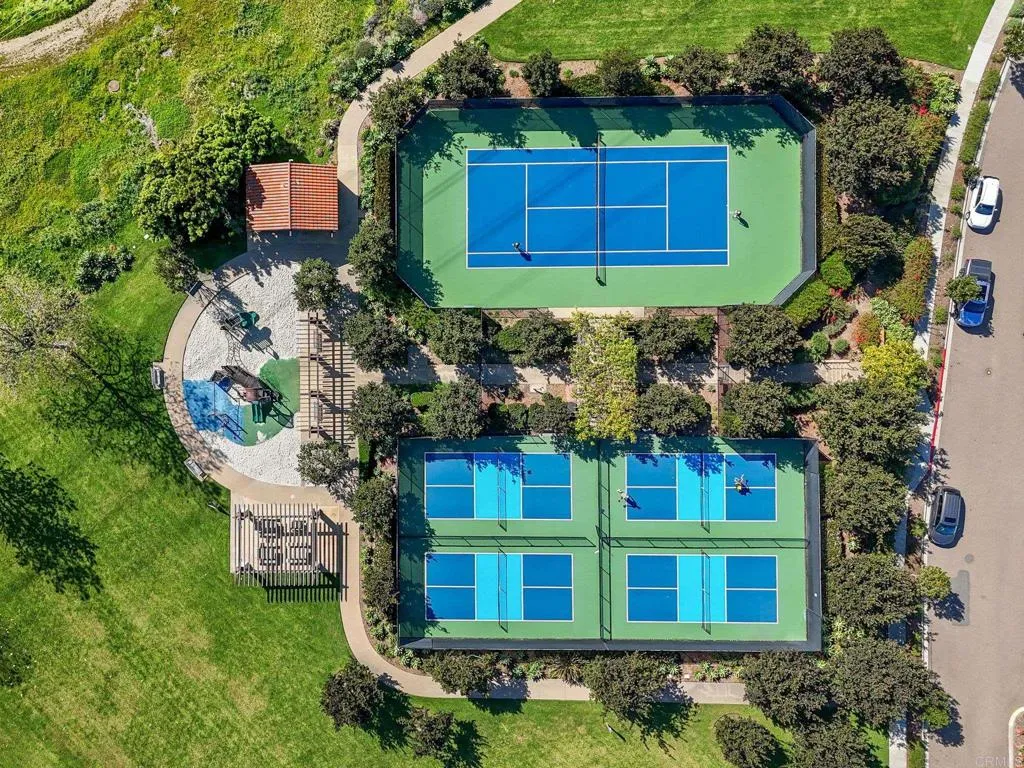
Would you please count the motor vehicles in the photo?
3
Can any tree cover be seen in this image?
Yes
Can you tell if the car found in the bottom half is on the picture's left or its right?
right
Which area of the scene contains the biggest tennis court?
top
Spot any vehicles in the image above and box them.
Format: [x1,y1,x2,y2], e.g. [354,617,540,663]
[930,487,964,545]
[954,261,991,327]
[968,174,1002,227]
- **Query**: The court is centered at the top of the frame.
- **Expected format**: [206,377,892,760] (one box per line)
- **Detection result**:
[398,104,802,307]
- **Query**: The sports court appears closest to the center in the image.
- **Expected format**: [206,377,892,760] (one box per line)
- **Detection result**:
[425,452,572,520]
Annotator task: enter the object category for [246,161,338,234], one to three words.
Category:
building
